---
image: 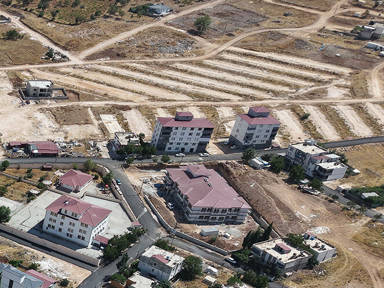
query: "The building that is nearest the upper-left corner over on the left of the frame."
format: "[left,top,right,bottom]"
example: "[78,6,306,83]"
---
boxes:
[24,80,53,96]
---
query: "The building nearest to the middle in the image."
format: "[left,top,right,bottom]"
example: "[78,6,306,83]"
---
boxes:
[152,111,214,152]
